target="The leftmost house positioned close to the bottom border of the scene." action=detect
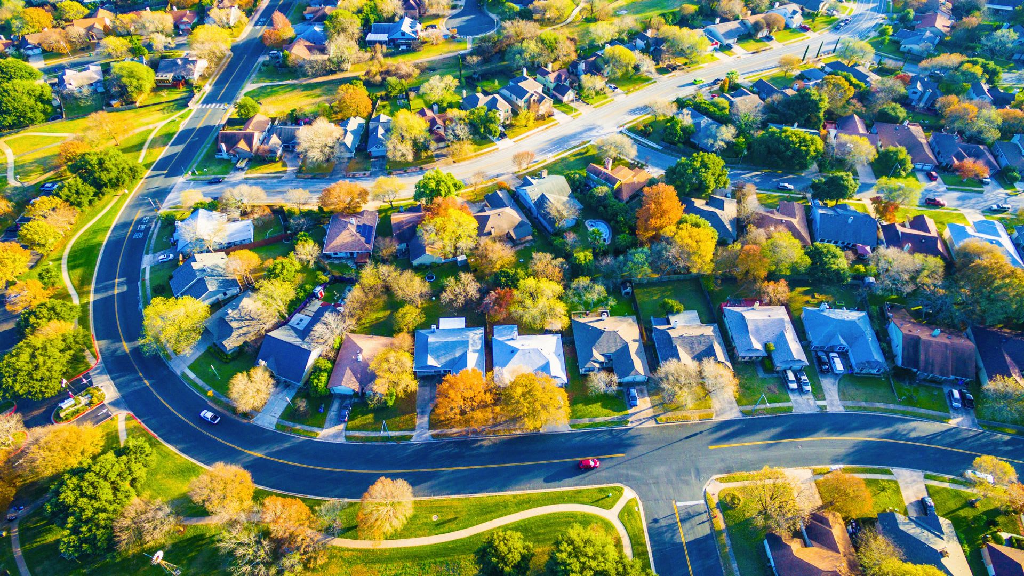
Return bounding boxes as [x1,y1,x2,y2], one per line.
[759,512,863,576]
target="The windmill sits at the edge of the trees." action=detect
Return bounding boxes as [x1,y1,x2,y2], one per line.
[144,547,186,576]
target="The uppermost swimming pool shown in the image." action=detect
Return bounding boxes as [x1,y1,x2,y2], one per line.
[586,220,611,244]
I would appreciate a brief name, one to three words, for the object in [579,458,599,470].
vehicle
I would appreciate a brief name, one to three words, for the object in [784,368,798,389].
vehicle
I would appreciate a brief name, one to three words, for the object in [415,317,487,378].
house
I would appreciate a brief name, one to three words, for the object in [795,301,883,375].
house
